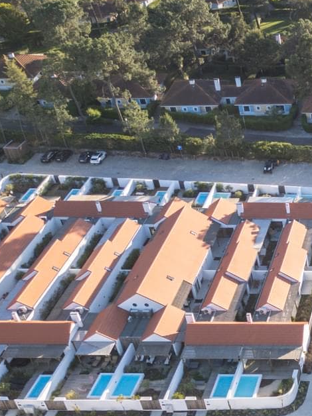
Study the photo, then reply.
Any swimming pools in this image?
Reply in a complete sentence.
Yes, there is a swimming pool in the image.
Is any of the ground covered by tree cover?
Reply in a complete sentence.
Yes, tree cover shows up in the scene.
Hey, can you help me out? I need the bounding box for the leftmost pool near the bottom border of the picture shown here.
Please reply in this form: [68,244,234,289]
[25,373,55,398]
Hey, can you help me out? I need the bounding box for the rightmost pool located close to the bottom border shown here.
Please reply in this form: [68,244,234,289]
[235,373,267,398]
